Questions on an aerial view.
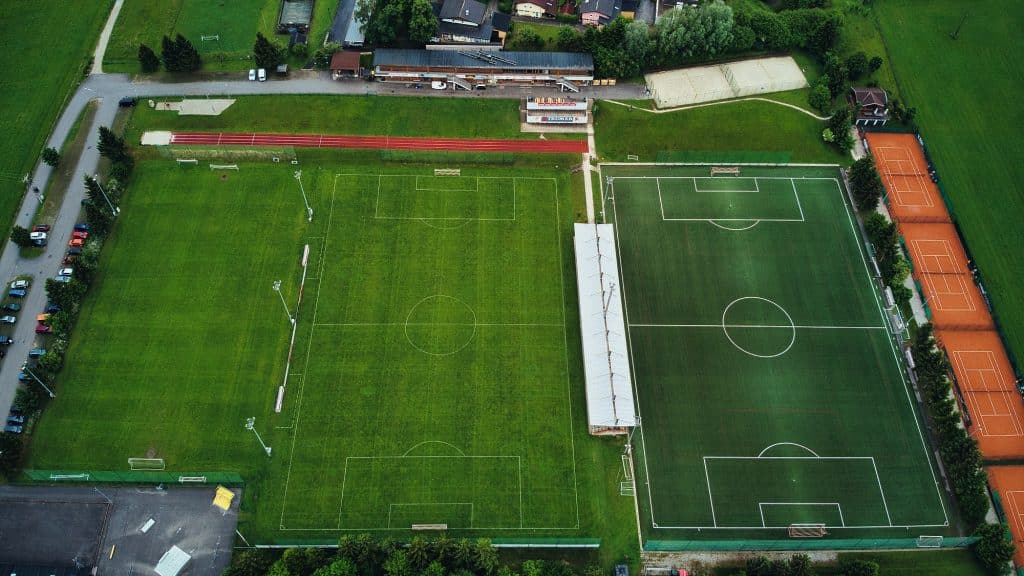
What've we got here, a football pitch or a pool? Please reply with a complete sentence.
Of the two, only a football pitch appears.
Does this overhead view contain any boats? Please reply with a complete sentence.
No, the picture doesn't show any boat.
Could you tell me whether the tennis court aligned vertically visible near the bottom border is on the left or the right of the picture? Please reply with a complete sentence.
The tennis court aligned vertically visible near the bottom border sits on the right side.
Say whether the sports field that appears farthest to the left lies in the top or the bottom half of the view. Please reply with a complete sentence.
The sports field that appears farthest to the left sits in the top half of the picture.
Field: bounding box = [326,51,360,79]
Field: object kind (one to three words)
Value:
building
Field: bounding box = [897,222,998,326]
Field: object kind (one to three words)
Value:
tennis court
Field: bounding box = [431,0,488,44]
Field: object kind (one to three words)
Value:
house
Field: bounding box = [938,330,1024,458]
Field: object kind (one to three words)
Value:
tennis court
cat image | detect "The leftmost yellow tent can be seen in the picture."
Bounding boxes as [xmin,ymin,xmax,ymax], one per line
[210,484,236,512]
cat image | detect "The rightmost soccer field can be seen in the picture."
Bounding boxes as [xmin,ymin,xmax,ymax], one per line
[597,163,973,549]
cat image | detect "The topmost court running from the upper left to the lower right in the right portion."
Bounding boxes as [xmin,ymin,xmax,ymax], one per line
[863,133,952,219]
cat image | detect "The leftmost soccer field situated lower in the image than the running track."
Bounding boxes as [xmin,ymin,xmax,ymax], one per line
[262,162,637,551]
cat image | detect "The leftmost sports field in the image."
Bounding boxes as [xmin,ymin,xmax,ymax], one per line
[112,0,267,58]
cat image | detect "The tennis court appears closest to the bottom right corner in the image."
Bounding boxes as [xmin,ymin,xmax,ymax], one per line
[989,463,1024,555]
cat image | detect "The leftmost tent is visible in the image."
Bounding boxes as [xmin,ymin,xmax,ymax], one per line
[151,542,197,576]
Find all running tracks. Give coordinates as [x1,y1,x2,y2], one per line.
[167,134,589,152]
